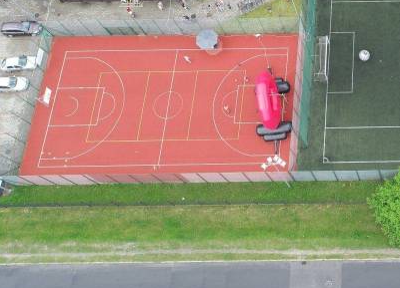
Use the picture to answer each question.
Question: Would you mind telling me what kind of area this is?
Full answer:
This image shows a sports ground.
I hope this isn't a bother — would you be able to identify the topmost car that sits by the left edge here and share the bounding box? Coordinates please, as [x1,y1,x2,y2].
[0,20,43,39]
